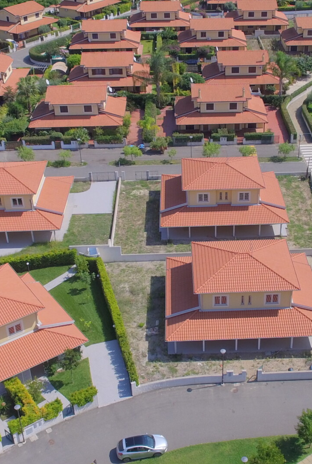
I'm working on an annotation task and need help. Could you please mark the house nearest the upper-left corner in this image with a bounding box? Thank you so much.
[0,0,63,41]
